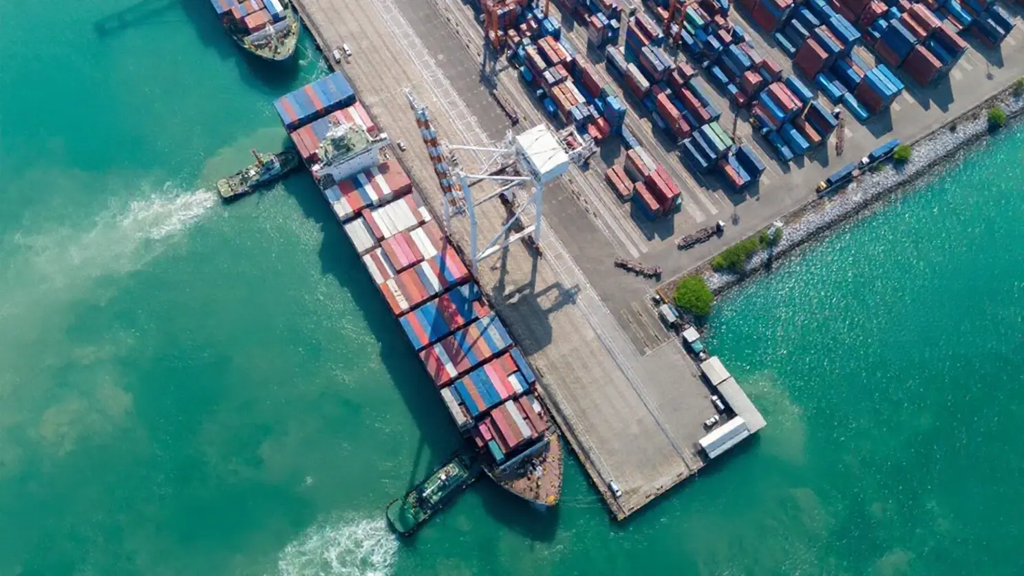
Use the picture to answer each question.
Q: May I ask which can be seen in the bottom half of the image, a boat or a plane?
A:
boat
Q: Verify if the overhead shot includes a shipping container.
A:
Yes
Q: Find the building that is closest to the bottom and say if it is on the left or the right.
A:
right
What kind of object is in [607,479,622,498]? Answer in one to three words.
vehicle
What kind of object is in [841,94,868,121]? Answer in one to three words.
shipping container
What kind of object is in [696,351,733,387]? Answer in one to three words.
shed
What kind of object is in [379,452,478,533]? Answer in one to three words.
boat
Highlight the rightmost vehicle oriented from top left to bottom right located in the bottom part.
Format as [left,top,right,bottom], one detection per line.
[708,393,727,414]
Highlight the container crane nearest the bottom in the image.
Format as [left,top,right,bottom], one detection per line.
[406,92,601,281]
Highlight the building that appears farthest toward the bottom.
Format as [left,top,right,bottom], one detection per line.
[695,414,751,463]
